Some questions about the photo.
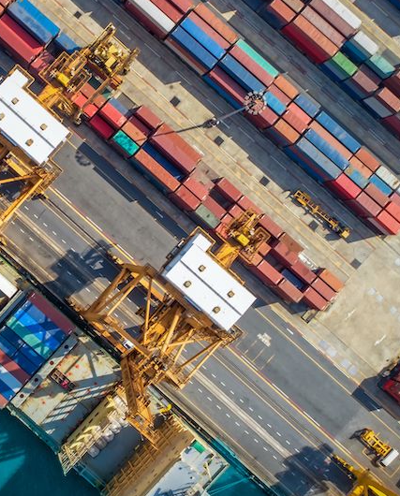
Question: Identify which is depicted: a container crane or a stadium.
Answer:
container crane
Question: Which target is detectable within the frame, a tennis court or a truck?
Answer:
truck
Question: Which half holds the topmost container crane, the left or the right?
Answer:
left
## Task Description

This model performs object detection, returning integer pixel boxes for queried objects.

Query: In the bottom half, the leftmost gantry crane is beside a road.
[64,211,276,454]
